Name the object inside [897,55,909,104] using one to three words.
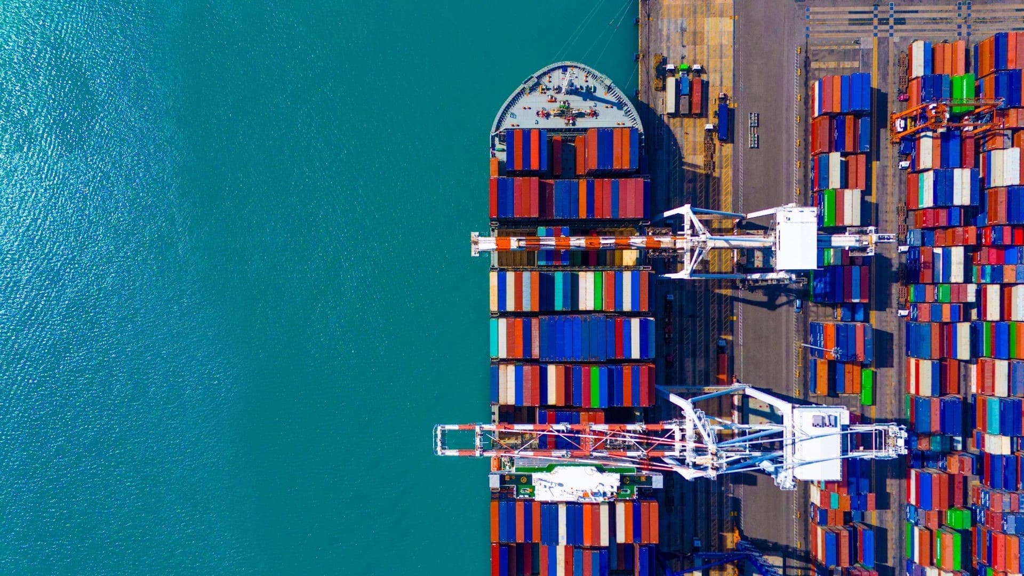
vehicle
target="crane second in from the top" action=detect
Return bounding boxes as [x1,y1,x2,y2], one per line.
[471,204,895,291]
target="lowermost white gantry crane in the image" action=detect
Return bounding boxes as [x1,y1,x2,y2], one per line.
[430,368,910,491]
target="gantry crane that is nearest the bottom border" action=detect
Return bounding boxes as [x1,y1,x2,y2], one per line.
[650,530,767,576]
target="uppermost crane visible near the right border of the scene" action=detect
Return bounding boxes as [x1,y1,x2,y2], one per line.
[892,96,1005,141]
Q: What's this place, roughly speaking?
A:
port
